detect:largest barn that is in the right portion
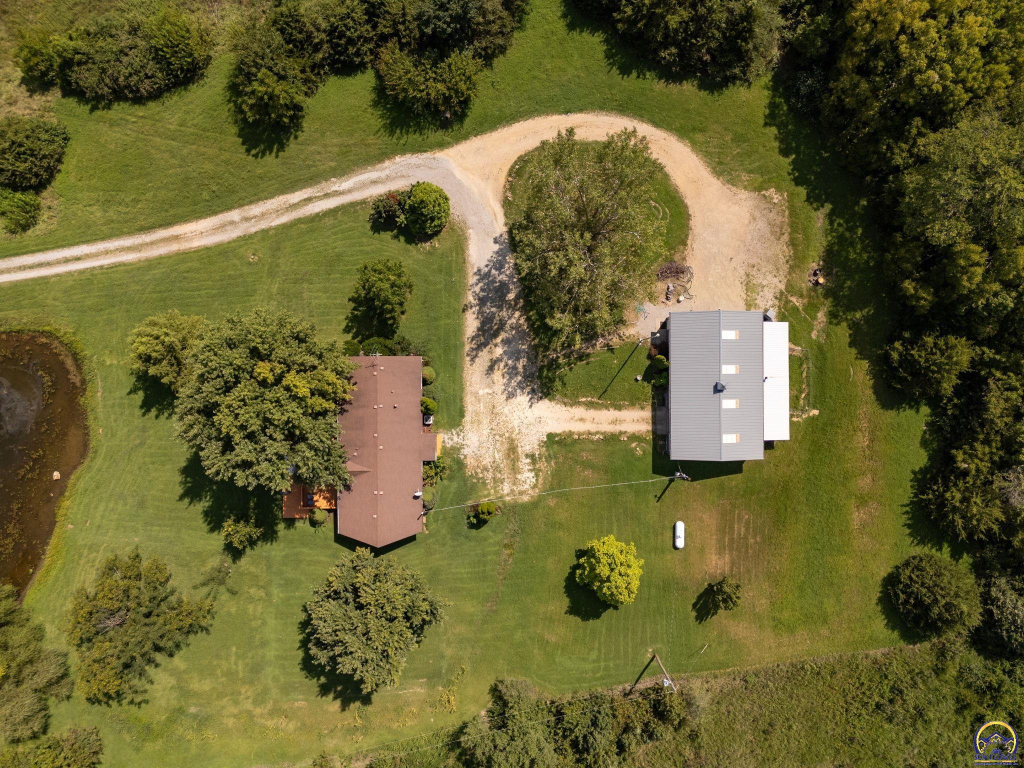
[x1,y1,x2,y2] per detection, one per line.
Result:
[666,308,765,461]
